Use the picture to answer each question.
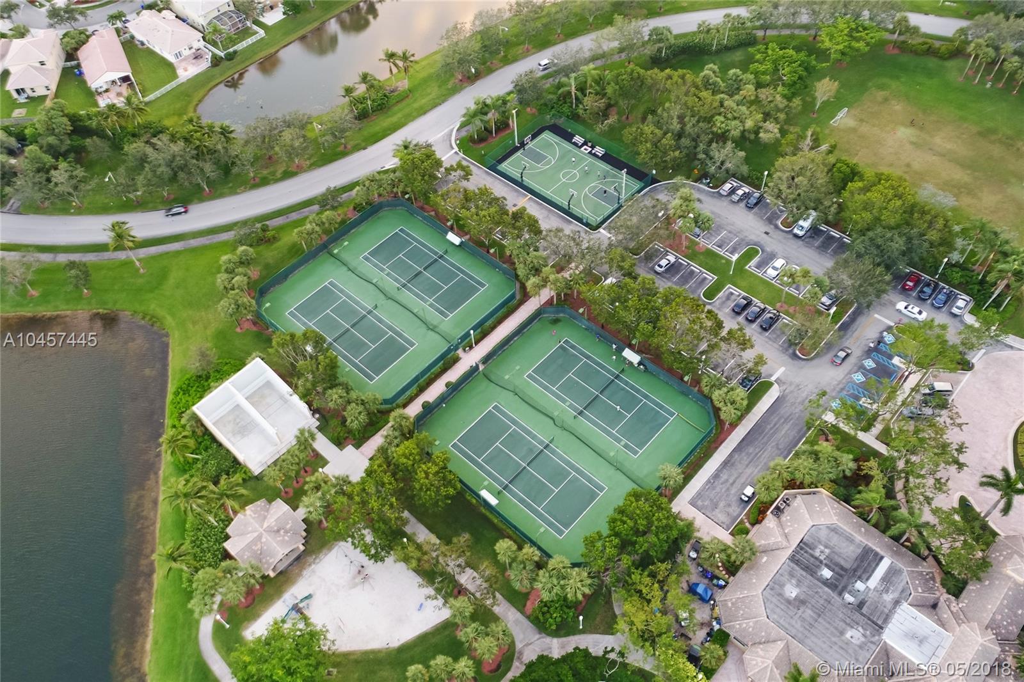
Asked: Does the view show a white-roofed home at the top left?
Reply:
Yes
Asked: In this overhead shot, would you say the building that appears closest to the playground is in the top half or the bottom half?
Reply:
bottom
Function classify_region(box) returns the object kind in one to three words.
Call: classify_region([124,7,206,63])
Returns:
house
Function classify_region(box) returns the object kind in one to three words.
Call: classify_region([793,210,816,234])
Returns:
vehicle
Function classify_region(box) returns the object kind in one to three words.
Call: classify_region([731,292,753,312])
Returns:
car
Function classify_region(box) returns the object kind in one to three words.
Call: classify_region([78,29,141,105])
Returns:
house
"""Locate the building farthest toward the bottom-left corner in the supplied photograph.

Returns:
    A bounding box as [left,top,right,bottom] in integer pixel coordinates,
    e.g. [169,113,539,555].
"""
[224,499,313,584]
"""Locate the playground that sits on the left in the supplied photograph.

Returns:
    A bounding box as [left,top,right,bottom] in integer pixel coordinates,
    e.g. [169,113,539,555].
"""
[244,537,448,652]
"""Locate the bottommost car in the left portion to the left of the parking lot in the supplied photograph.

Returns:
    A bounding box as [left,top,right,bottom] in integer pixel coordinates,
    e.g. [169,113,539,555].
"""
[165,203,187,216]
